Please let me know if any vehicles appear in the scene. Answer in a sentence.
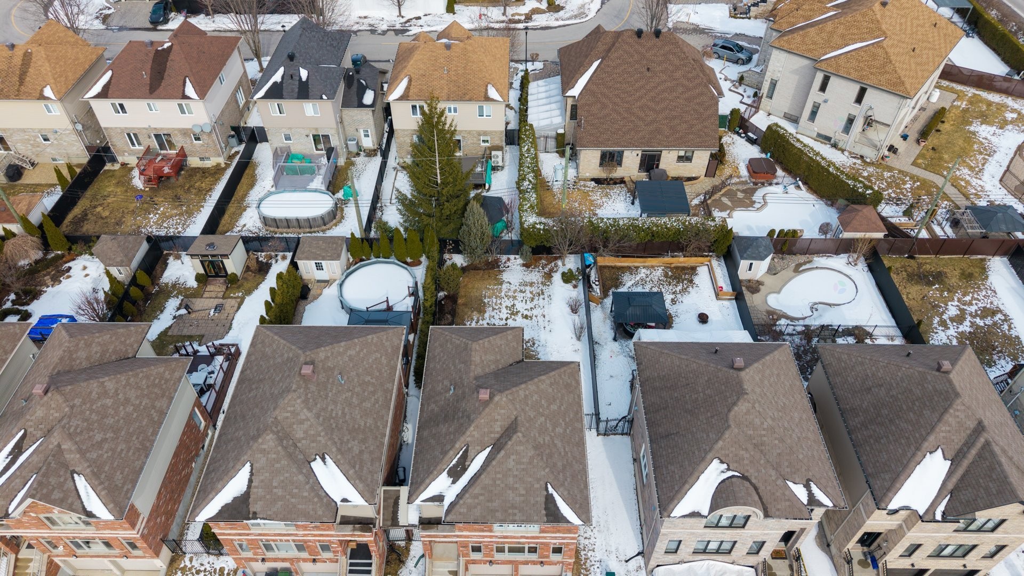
Yes, the image includes a vehicle.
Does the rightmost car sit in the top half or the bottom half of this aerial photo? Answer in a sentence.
You can find the rightmost car in the top half.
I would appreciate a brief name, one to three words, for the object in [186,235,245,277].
shed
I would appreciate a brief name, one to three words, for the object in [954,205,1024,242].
gazebo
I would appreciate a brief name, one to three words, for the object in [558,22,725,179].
house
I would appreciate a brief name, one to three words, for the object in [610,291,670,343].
gazebo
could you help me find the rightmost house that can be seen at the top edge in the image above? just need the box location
[750,0,967,171]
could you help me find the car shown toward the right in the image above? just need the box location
[711,37,756,64]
